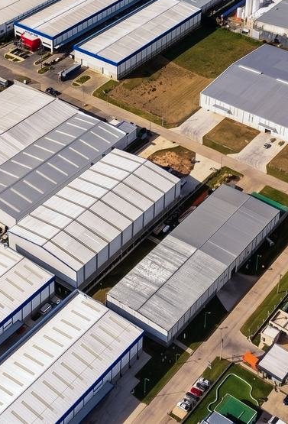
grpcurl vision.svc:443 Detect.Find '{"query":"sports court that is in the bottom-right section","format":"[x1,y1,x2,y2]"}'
[208,373,258,424]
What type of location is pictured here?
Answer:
industrial area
